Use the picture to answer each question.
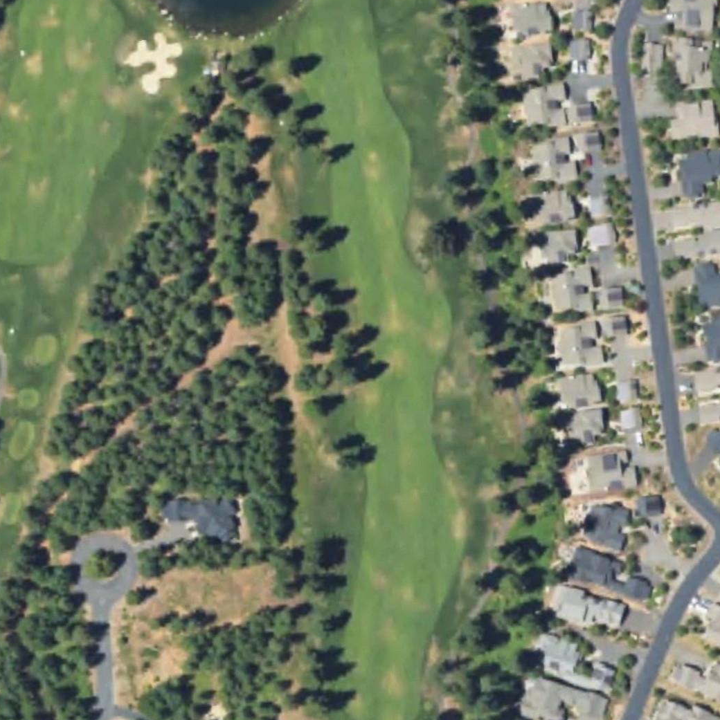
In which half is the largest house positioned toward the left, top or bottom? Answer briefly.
bottom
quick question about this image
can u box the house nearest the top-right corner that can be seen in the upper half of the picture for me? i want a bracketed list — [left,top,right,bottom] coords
[668,0,718,34]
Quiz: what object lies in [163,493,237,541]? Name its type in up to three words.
house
